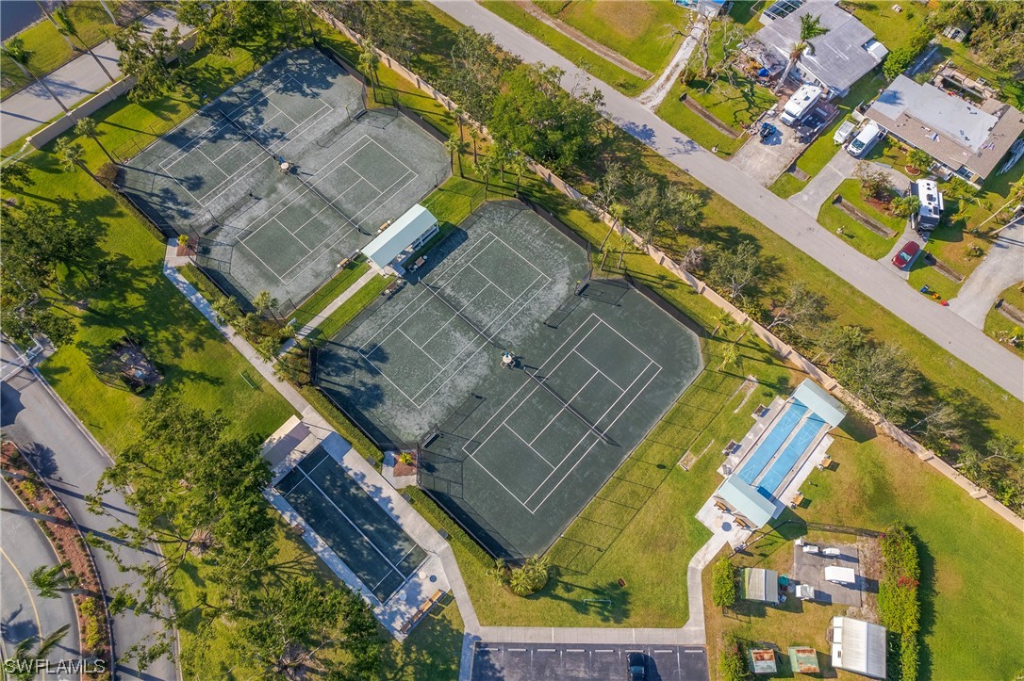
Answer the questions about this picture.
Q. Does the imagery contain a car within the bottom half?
Yes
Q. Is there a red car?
Yes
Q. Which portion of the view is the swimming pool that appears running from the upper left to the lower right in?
top right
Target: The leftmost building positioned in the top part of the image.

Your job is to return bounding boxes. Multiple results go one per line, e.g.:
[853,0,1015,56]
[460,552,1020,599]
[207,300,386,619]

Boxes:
[360,204,438,281]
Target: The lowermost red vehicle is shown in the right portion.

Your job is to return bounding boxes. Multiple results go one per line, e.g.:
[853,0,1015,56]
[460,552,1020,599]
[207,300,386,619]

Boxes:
[890,240,921,270]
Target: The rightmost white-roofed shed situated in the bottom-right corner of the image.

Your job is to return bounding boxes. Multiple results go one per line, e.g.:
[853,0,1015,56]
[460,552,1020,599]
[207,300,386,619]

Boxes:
[832,617,887,679]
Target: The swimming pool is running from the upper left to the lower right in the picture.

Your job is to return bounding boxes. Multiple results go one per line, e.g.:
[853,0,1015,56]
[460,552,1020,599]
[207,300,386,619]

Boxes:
[934,55,1004,107]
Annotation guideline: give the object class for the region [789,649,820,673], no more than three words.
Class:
shed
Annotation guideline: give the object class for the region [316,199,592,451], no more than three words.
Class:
tennis court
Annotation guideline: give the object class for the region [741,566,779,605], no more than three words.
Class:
shed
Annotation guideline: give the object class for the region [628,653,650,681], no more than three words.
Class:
car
